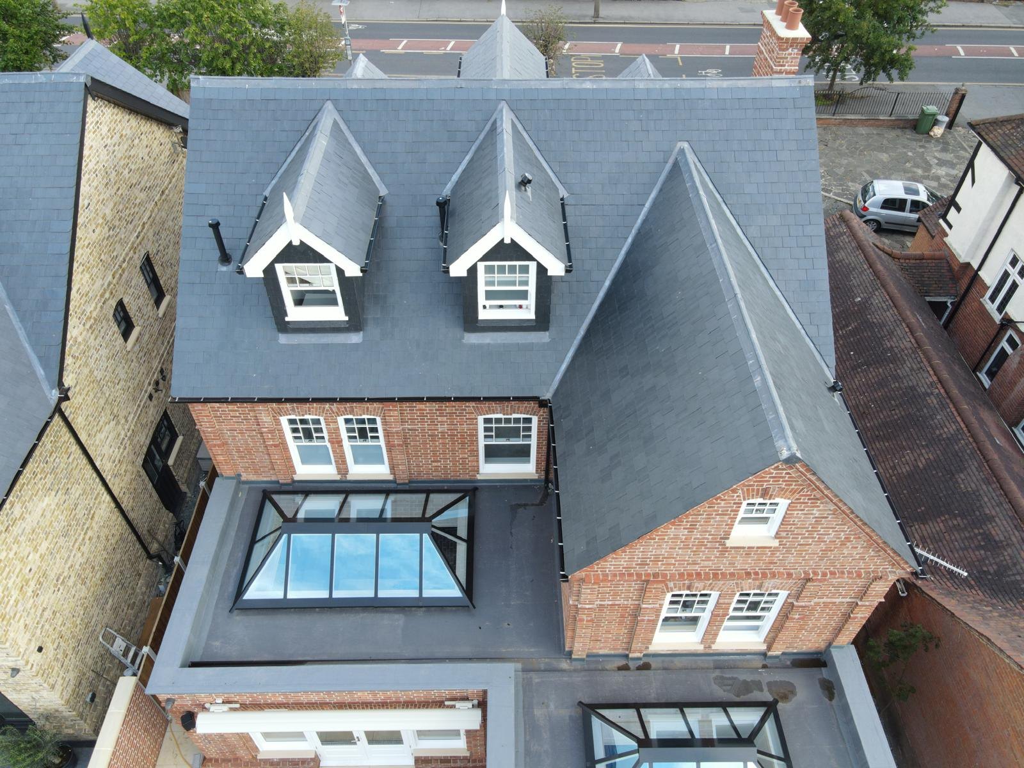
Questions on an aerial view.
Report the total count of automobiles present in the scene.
1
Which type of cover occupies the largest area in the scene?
buildings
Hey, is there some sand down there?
No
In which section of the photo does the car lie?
top right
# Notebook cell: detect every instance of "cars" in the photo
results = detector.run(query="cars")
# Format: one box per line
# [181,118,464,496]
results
[856,178,945,237]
